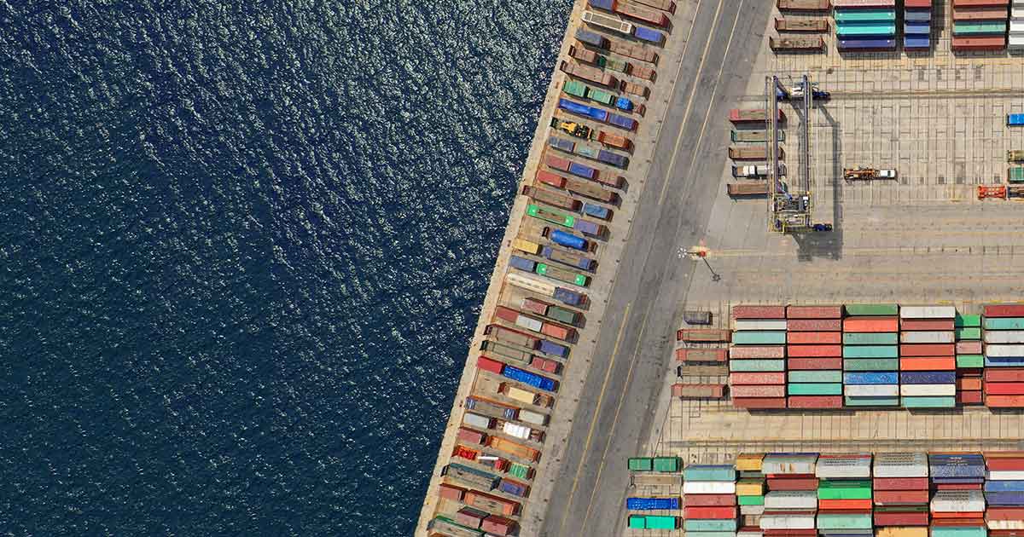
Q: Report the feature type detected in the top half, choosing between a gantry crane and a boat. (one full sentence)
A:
The one visible in the top half is a gantry crane.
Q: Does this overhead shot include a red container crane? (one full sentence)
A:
No, there's no red container crane here.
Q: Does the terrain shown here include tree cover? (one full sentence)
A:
No, there is no tree cover in the image.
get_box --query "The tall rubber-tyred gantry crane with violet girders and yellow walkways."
[767,73,831,233]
